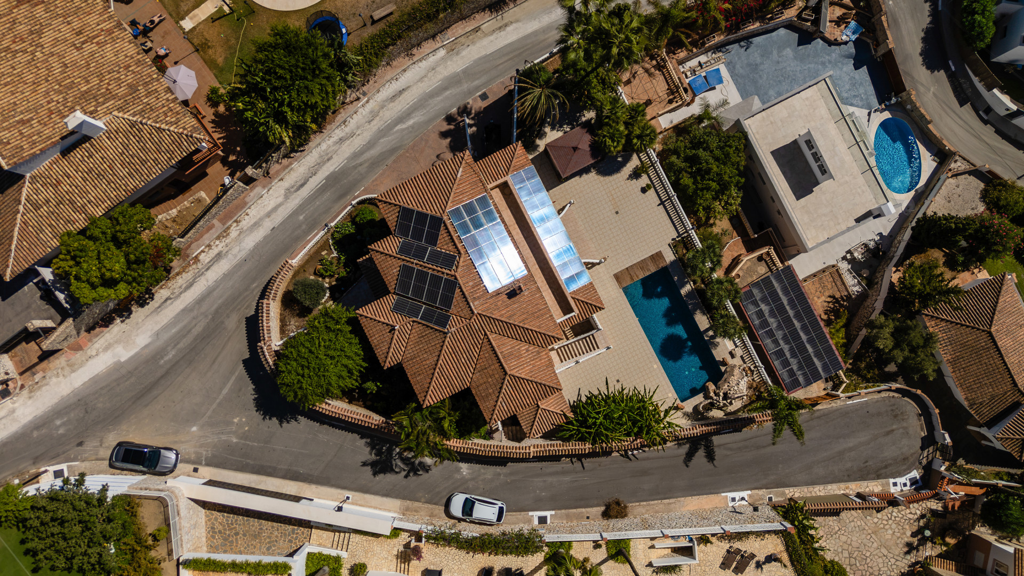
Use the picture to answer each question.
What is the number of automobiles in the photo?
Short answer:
3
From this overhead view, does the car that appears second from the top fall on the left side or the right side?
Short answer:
left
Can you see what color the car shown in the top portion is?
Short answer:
black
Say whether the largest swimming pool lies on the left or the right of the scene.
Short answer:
right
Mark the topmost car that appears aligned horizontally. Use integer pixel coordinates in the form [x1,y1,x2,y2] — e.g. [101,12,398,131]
[105,441,180,477]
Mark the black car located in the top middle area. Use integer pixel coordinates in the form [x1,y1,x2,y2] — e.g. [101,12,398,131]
[476,101,507,158]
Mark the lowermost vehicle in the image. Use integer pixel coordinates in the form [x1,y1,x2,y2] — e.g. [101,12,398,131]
[445,492,508,528]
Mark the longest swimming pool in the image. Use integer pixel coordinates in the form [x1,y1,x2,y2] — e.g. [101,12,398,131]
[624,268,719,400]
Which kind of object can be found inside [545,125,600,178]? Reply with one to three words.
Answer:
gazebo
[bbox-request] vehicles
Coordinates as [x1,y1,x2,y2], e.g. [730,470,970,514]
[445,492,508,528]
[476,101,507,158]
[105,441,180,477]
